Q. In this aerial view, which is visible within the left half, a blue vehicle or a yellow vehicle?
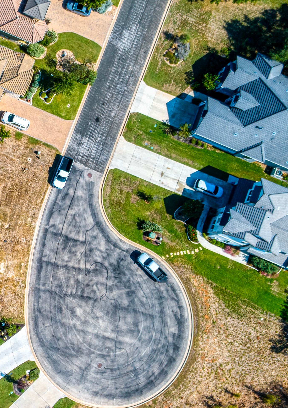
blue vehicle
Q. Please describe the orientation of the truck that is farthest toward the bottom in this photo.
at an angle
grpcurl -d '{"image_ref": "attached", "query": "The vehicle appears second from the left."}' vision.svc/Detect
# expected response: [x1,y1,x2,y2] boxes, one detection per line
[51,154,76,190]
